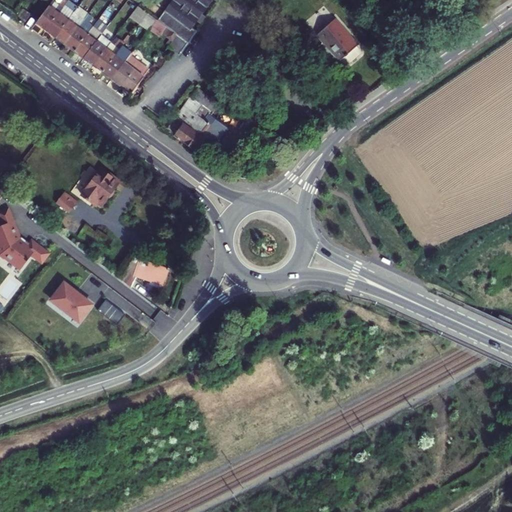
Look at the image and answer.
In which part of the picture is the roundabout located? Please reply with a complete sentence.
The roundabout appears toward the center of the photo.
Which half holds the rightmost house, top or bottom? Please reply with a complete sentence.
It is in the top half that the rightmost house appears.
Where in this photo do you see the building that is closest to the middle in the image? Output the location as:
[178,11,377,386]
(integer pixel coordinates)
[134,262,168,286]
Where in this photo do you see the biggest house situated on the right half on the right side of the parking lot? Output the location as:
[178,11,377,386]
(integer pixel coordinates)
[318,18,358,60]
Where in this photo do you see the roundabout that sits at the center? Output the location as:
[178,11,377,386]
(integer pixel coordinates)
[214,190,318,292]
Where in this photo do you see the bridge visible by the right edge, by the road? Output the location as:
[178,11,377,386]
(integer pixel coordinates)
[416,288,512,366]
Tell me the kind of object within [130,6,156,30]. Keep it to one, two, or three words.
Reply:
shed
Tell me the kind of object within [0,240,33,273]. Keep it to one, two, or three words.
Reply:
house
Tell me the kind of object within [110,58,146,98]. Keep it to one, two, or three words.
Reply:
house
